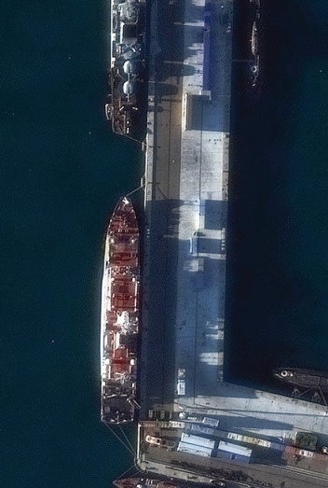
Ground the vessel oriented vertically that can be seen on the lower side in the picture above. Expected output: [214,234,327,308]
[101,197,140,423]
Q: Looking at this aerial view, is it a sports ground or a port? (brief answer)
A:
port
